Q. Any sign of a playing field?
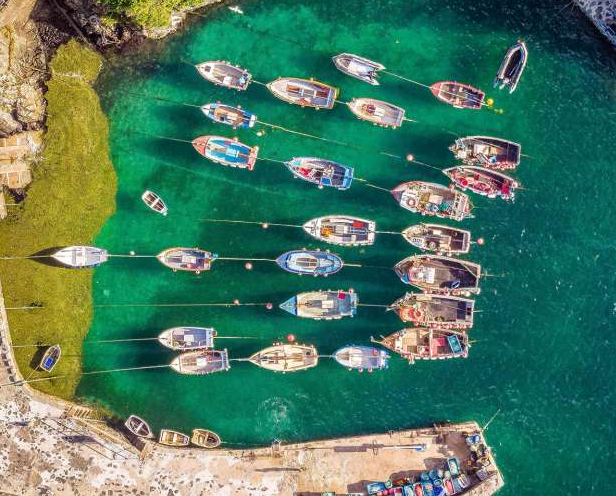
No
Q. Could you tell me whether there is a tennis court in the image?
No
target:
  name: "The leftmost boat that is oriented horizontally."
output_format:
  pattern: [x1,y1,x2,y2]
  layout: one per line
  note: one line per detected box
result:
[50,245,108,269]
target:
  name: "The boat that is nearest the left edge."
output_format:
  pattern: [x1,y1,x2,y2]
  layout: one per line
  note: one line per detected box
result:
[37,345,61,374]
